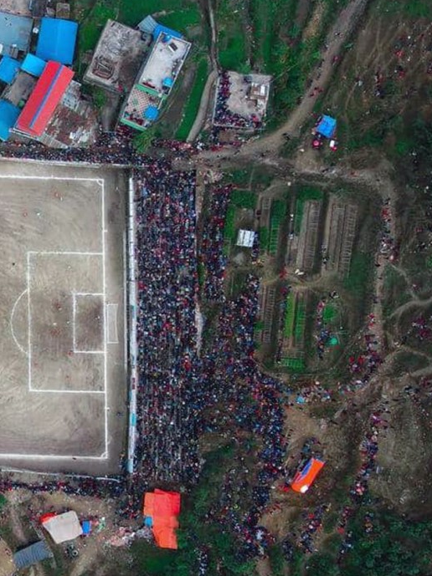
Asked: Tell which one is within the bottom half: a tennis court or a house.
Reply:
house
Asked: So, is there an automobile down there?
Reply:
No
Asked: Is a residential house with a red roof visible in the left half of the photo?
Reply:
Yes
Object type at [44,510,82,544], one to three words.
tent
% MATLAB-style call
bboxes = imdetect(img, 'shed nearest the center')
[233,230,254,246]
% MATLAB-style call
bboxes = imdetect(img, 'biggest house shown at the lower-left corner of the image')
[13,538,49,569]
